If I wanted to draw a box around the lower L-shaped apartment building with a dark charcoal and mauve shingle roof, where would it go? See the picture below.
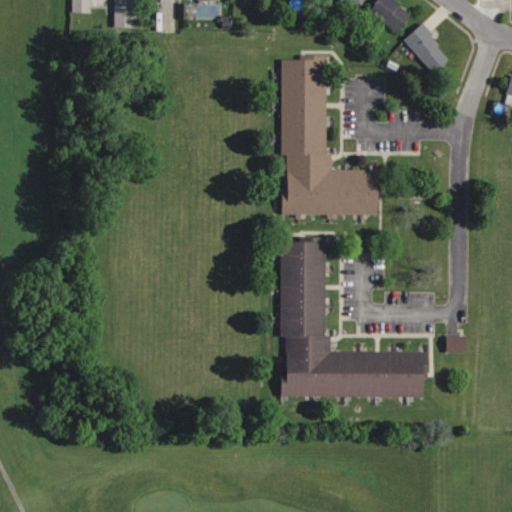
[280,236,430,398]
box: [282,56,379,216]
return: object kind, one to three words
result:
building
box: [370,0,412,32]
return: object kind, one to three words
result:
house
